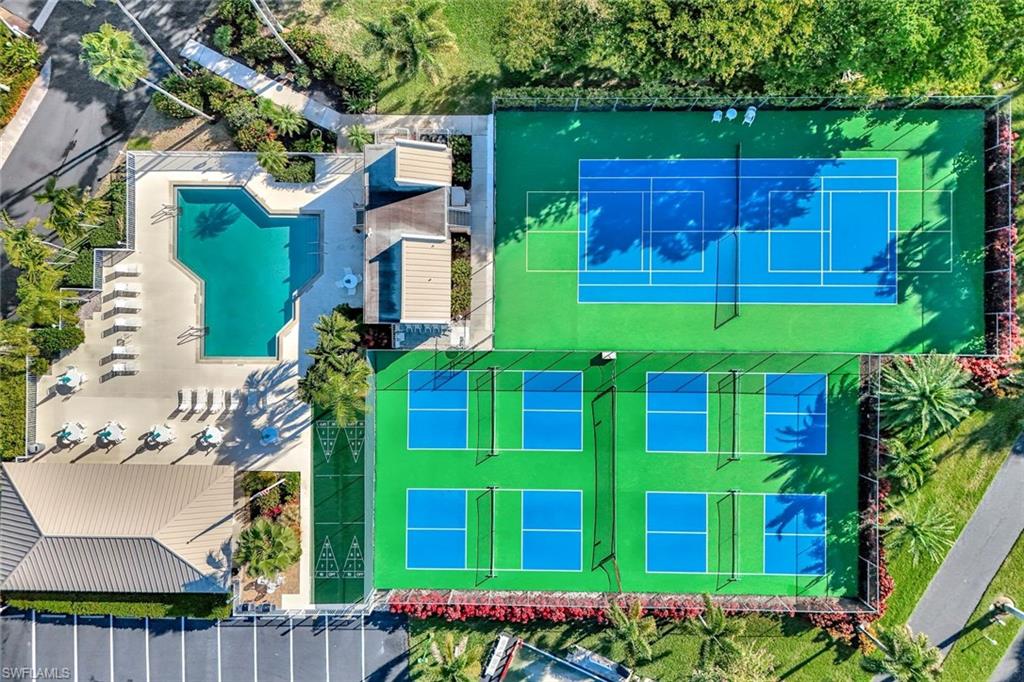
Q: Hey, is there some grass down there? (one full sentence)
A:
Yes, there's grass in this view.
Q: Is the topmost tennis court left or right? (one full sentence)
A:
The topmost tennis court appears in the right half of the scene.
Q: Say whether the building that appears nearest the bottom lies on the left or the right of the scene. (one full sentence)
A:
It is on the left.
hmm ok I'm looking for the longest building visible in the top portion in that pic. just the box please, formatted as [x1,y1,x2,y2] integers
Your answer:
[365,140,452,325]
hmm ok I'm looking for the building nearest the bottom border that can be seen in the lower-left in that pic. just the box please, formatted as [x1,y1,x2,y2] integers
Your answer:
[0,464,239,593]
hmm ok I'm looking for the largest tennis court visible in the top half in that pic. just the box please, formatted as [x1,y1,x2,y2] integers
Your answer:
[494,110,985,355]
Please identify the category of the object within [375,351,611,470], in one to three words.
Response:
sports court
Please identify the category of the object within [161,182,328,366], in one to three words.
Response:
swimming pool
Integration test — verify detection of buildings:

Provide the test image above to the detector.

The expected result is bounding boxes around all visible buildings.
[365,140,452,325]
[0,464,239,593]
